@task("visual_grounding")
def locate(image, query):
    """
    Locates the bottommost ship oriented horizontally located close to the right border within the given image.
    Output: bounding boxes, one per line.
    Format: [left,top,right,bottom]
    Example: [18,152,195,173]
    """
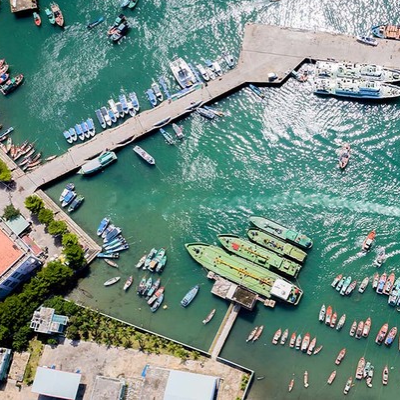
[312,79,400,99]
